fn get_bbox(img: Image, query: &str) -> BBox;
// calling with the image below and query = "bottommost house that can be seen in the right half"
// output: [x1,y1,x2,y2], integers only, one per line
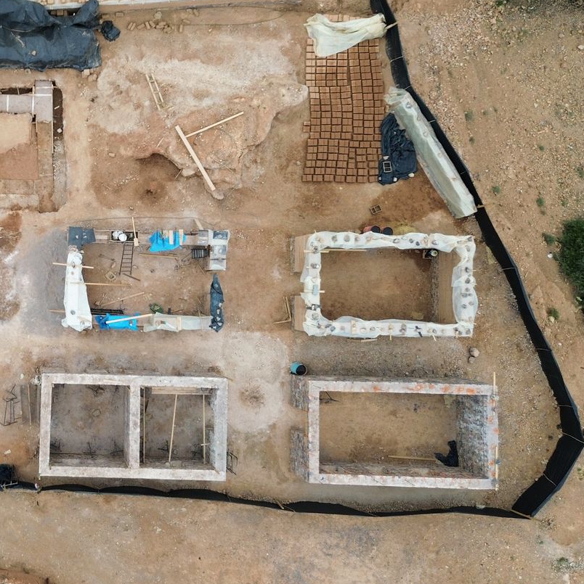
[290,374,498,491]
